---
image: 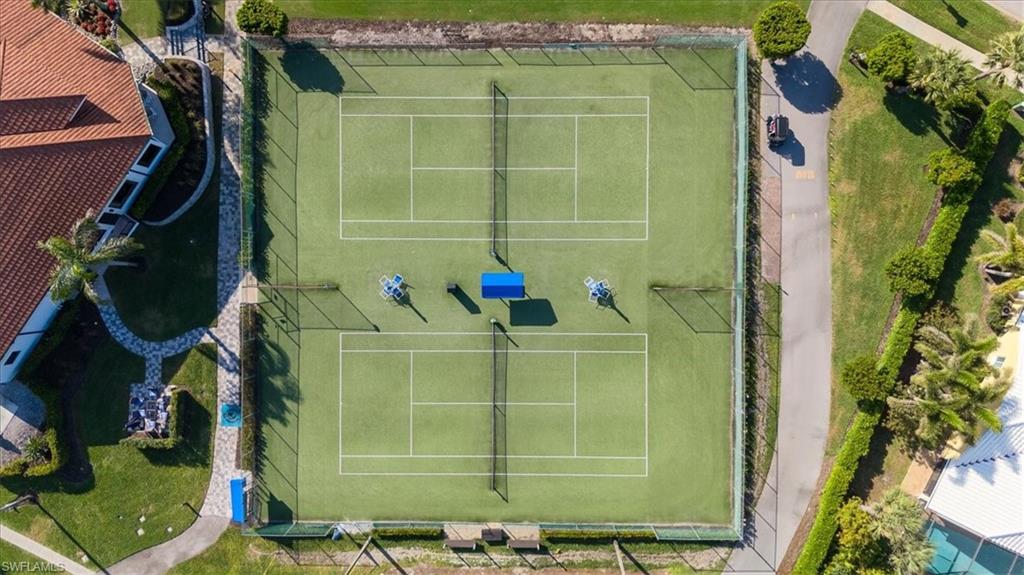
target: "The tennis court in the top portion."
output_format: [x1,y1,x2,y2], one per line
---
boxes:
[257,48,735,287]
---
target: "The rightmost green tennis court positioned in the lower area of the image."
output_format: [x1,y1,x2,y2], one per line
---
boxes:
[257,287,735,526]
